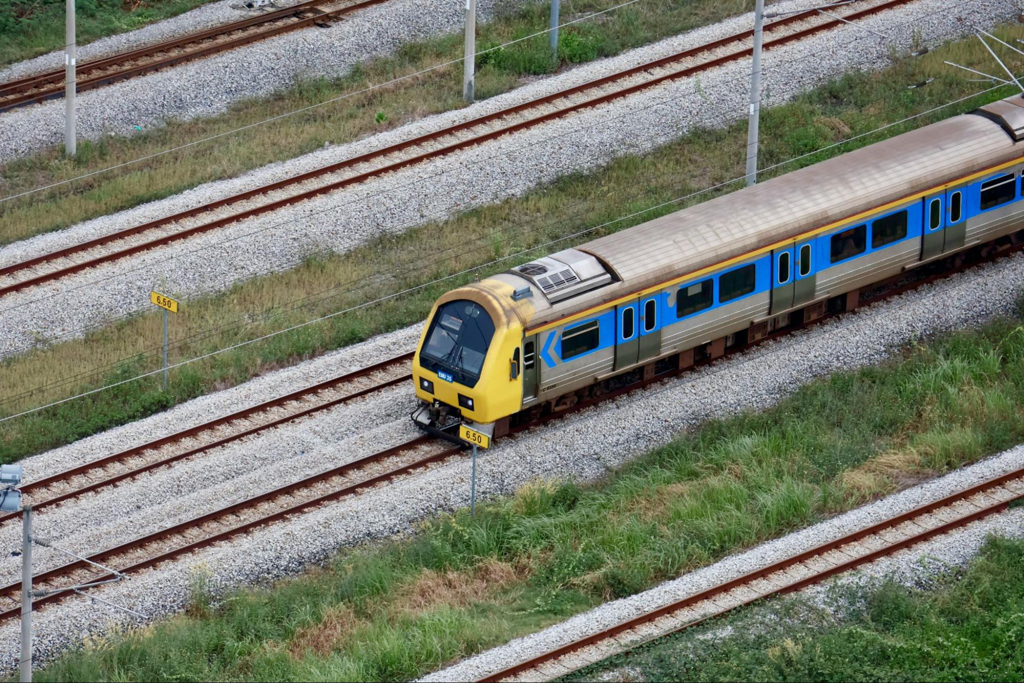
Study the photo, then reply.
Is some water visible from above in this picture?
No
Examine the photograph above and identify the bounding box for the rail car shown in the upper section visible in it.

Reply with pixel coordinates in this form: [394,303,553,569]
[409,94,1024,447]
